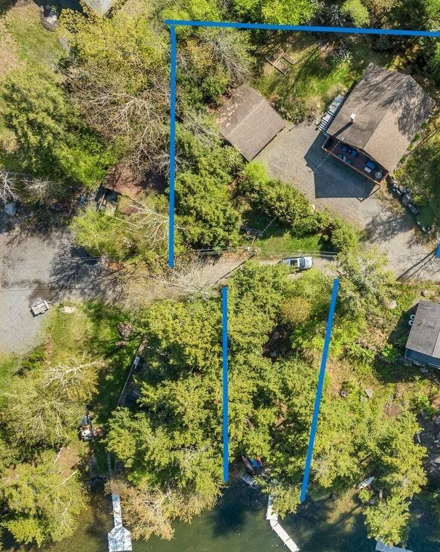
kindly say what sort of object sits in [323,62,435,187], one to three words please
house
